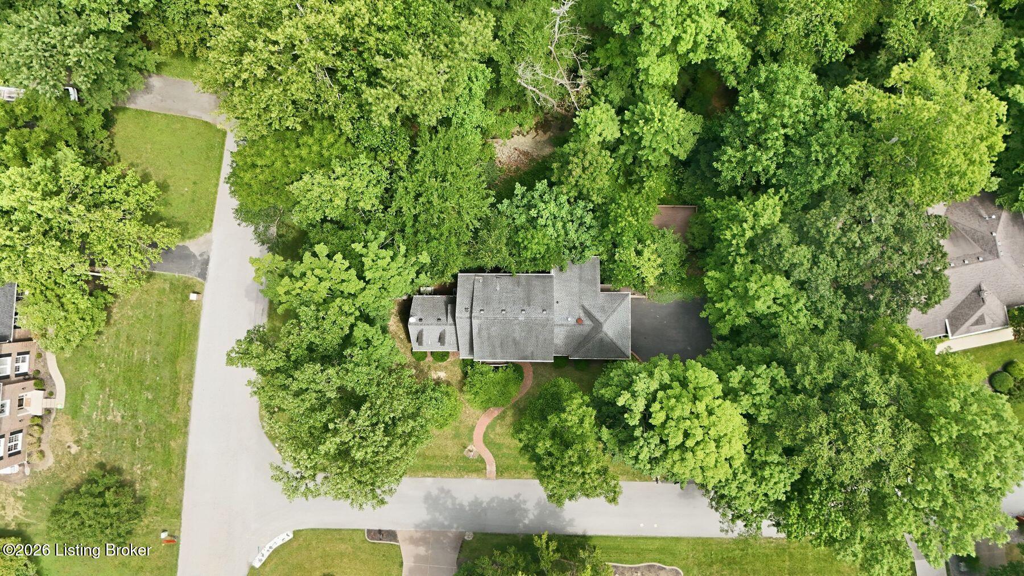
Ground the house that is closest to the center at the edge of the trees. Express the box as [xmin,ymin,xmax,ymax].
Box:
[408,256,631,366]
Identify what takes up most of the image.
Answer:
trees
